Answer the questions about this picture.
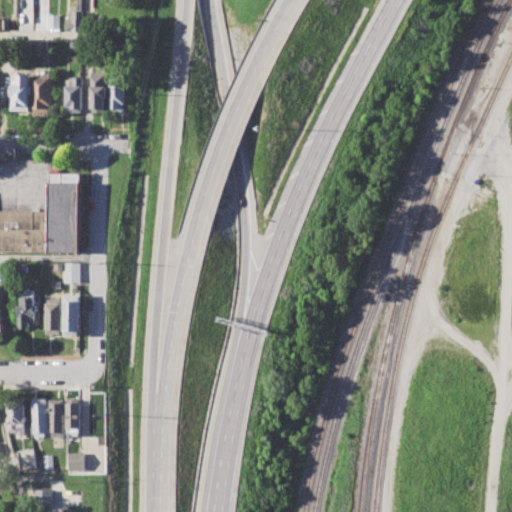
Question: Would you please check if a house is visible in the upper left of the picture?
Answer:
Yes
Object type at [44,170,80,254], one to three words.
building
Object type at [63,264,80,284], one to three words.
building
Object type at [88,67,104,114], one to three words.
house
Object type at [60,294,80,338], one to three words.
house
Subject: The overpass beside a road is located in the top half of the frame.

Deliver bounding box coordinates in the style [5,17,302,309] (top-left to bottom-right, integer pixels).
[178,0,310,242]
